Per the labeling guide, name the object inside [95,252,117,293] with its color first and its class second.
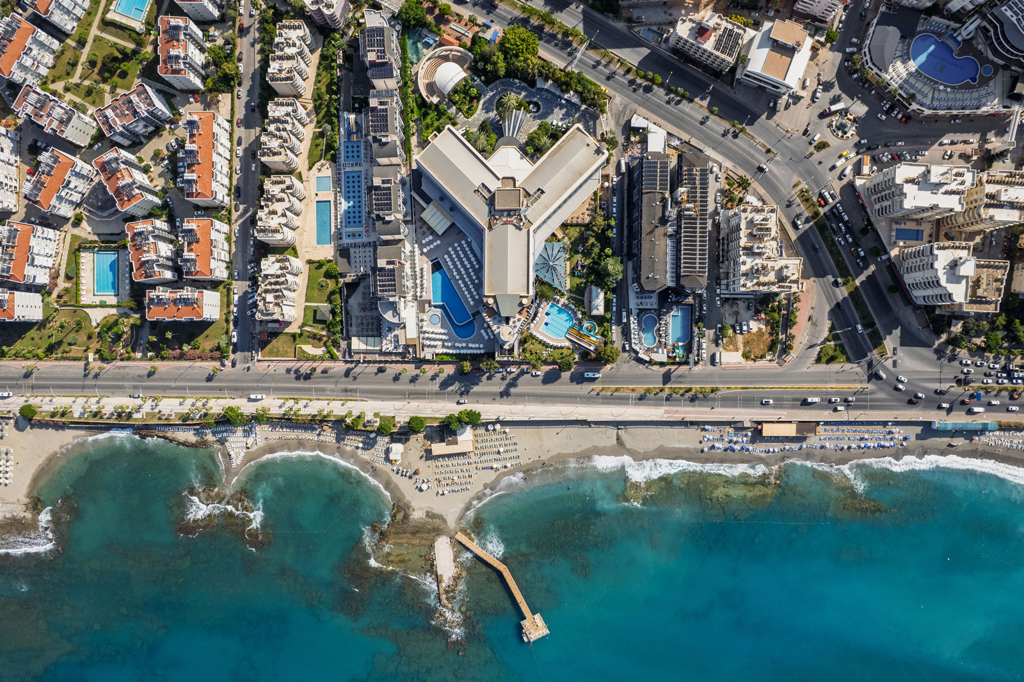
blue swimming pool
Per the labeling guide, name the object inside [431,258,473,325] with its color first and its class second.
blue swimming pool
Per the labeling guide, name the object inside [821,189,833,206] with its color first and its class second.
white vehicle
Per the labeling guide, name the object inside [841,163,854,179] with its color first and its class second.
white vehicle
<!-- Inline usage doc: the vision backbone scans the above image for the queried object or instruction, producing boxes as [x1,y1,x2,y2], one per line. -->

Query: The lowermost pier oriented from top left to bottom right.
[455,530,550,643]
